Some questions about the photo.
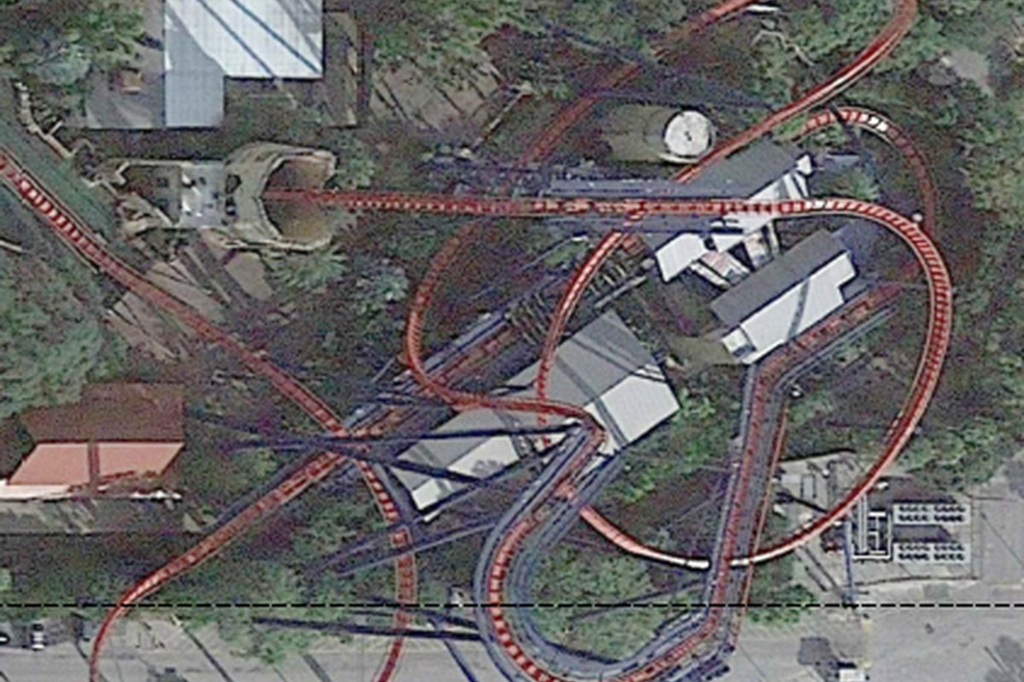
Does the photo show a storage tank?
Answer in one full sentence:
Yes, the image includes a storage tank.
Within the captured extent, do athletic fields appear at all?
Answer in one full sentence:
No, the photo shows no athletic field.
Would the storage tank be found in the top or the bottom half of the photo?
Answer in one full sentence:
The storage tank sits in the top half of the picture.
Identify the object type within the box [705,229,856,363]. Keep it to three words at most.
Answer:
building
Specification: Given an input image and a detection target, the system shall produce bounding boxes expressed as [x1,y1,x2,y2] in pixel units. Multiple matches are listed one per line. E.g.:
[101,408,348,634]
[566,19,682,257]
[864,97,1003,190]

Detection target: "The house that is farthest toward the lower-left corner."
[0,384,184,498]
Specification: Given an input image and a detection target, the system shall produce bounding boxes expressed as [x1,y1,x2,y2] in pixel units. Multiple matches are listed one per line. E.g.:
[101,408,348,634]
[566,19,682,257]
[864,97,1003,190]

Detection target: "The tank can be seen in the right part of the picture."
[605,105,713,166]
